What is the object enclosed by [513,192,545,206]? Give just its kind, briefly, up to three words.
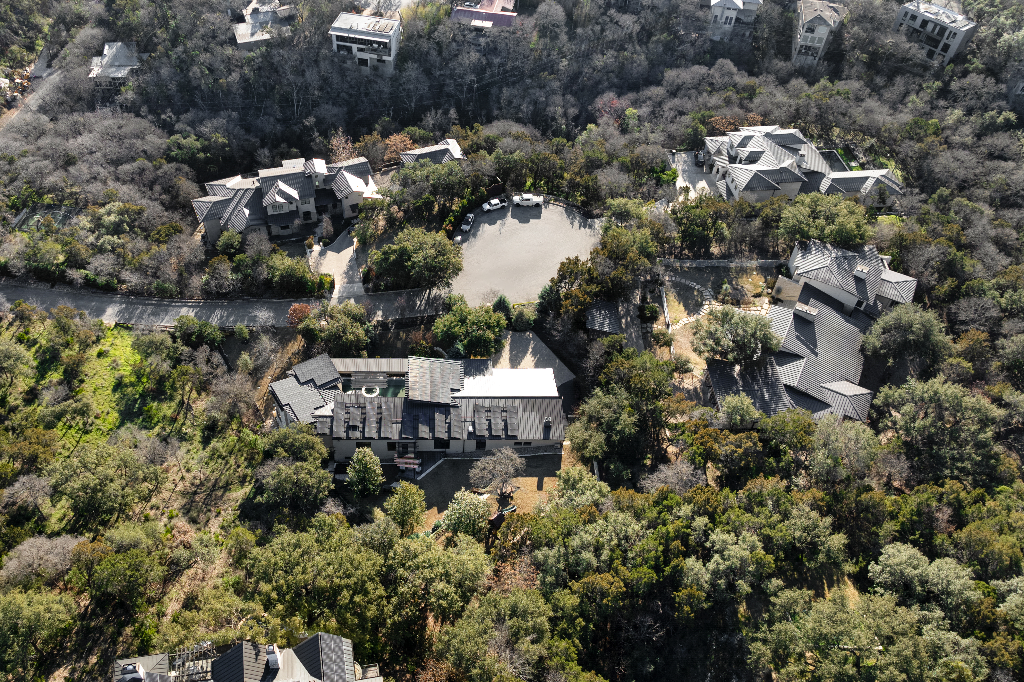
vehicle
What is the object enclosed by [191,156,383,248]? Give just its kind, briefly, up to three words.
house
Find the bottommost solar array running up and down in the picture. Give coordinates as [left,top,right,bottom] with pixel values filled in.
[321,634,347,682]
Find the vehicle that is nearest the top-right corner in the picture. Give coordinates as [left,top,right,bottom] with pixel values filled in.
[695,148,707,166]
